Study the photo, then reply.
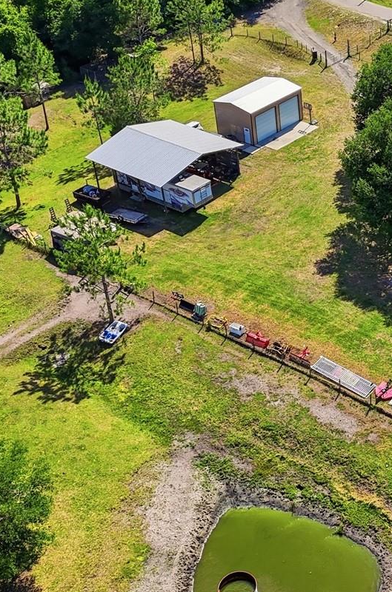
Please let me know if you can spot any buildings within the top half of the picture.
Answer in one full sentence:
Yes, a building shows up within the top half of the picture.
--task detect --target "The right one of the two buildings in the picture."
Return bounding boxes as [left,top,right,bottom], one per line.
[212,77,301,145]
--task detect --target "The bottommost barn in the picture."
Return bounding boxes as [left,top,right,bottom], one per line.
[86,120,243,221]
